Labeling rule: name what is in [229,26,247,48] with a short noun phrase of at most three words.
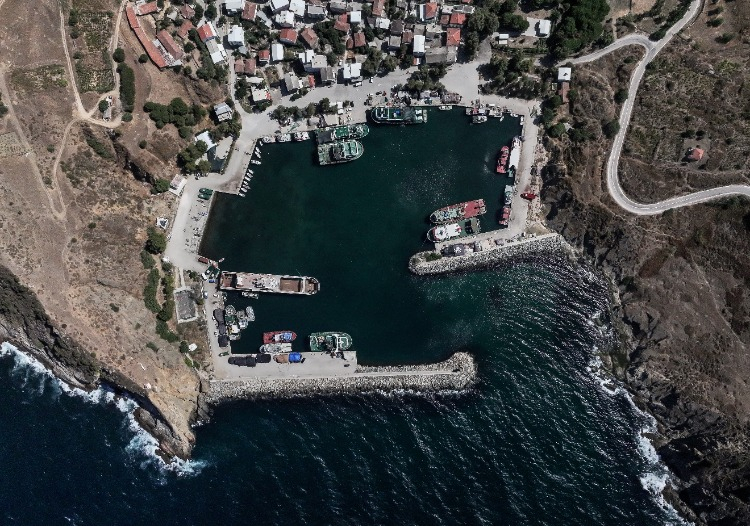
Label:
house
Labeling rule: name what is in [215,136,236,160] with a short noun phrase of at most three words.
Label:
building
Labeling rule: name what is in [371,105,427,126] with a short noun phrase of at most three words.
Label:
boat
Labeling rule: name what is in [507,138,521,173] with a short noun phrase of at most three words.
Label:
boat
